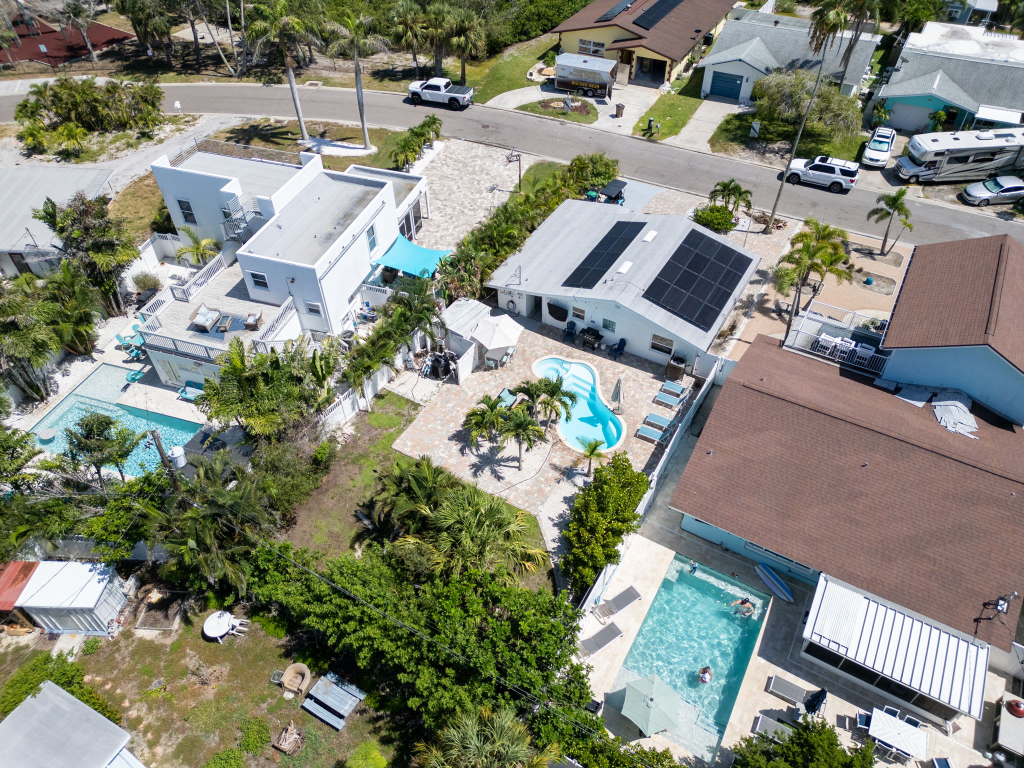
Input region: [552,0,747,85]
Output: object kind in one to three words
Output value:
house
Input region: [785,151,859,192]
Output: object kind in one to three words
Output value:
car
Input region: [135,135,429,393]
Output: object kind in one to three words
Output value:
house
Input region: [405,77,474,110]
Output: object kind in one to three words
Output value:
truck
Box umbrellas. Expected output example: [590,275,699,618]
[472,314,524,351]
[795,687,835,730]
[621,673,681,736]
[611,377,627,416]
